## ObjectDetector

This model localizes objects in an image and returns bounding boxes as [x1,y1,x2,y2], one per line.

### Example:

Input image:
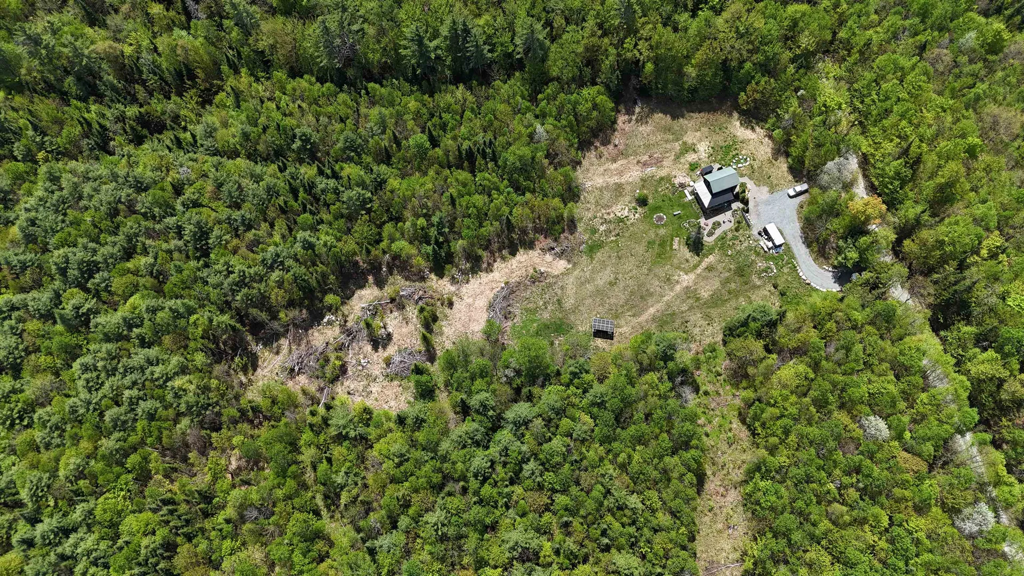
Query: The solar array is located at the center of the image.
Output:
[592,318,614,332]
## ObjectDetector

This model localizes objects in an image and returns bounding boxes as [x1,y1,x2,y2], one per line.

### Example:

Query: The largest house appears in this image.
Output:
[694,166,739,216]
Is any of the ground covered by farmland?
No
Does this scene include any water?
No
